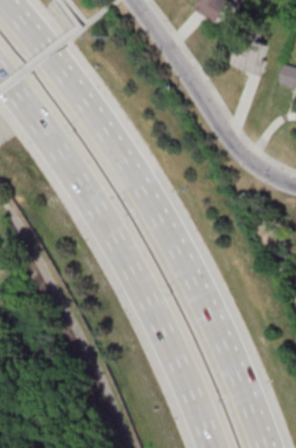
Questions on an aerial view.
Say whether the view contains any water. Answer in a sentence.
No, the picture contains no water.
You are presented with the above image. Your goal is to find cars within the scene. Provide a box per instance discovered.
[0,69,8,78]
[204,309,212,321]
[248,368,256,381]
[72,184,81,194]
[40,119,48,128]
[204,430,212,442]
[156,331,164,340]
[41,108,49,118]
